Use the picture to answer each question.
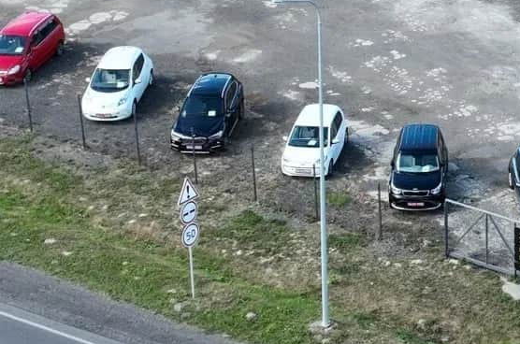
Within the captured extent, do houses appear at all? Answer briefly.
No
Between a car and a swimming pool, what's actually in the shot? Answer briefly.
car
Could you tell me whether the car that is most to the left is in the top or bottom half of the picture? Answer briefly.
top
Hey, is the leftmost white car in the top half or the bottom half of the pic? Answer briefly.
top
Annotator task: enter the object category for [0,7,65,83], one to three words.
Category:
car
